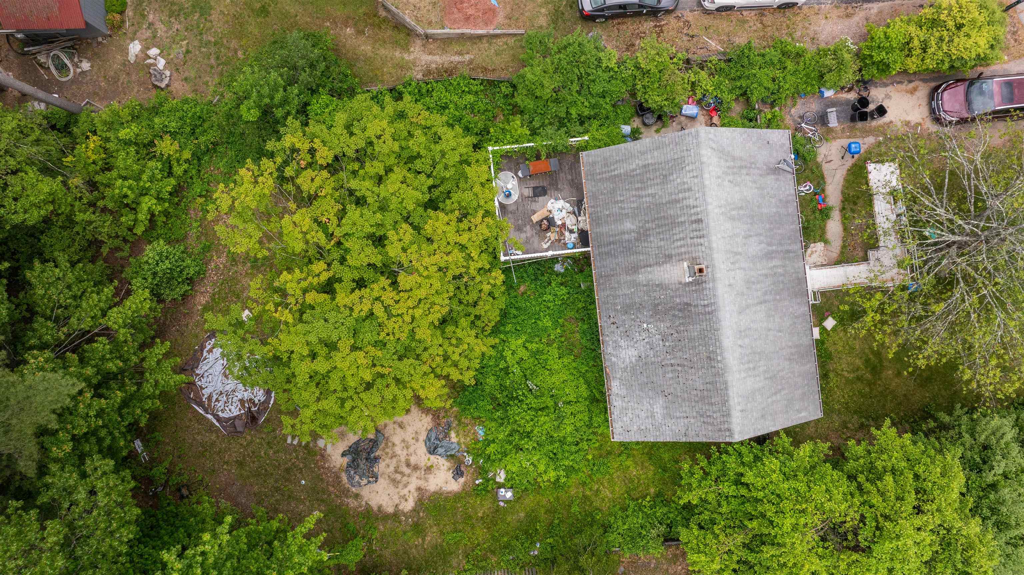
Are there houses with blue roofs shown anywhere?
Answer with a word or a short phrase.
No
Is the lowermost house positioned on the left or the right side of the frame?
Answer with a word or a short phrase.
right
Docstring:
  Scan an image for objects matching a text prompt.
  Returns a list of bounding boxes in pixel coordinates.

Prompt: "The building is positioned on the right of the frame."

[579,128,822,443]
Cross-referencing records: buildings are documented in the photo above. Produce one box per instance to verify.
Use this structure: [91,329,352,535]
[0,0,108,39]
[579,128,822,443]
